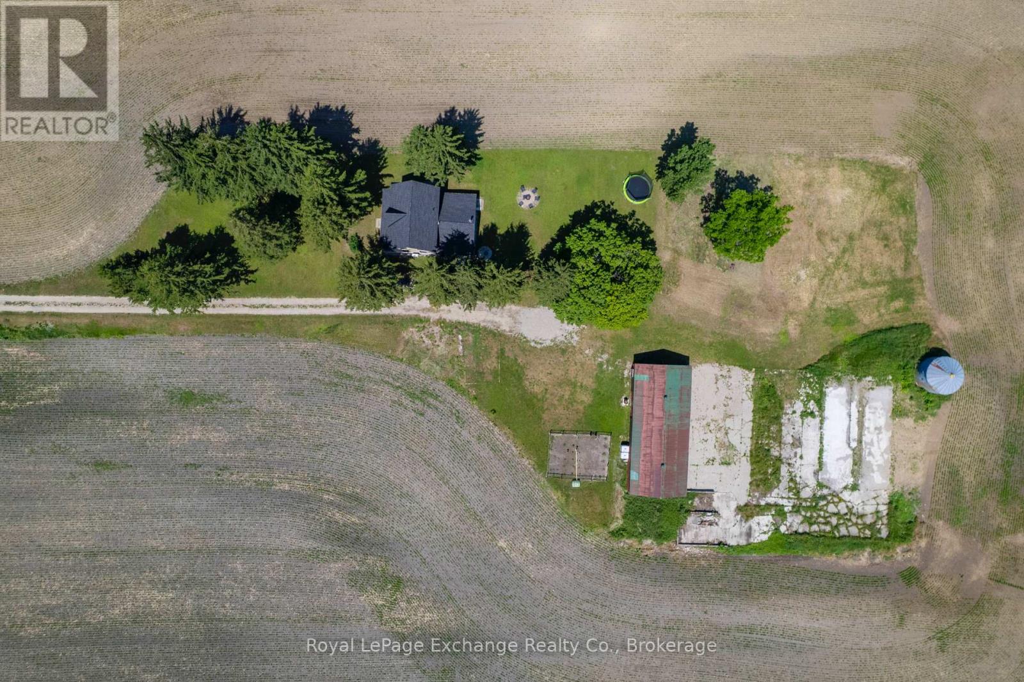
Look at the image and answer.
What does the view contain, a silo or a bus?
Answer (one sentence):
This aerial view contains a silo.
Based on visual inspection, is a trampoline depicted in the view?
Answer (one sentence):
Yes, there's a trampoline down there.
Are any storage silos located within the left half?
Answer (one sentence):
No, no storage silo is visible within the left half.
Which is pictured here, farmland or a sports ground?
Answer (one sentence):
It's farmland.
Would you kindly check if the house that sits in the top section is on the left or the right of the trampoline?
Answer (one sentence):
The house that sits in the top section can be seen on the left of the trampoline.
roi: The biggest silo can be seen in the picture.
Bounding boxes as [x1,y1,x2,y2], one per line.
[914,356,965,395]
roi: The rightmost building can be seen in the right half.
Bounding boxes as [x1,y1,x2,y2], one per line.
[627,364,691,498]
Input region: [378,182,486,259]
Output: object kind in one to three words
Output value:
house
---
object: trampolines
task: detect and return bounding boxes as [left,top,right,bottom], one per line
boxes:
[622,170,653,205]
